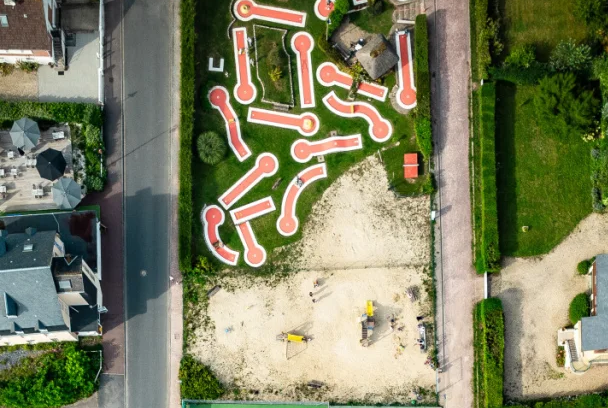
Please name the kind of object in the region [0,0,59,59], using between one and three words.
house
